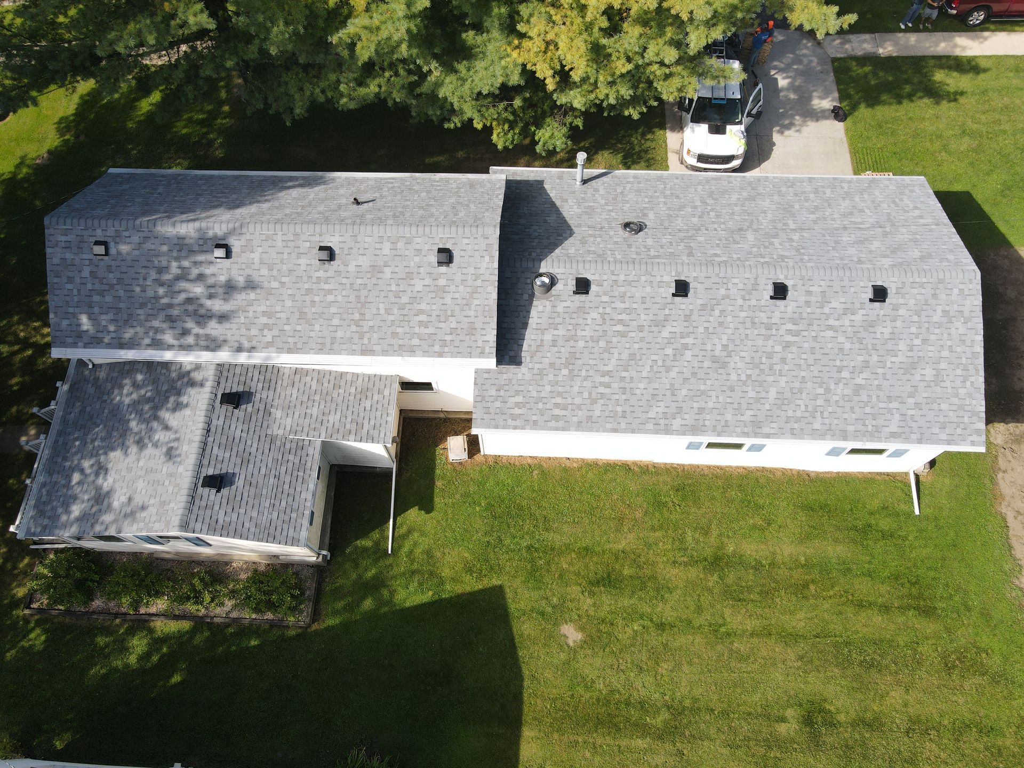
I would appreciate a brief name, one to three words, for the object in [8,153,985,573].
house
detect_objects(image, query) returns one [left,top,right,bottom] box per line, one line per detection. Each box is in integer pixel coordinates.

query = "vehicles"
[940,0,1024,24]
[667,14,764,169]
